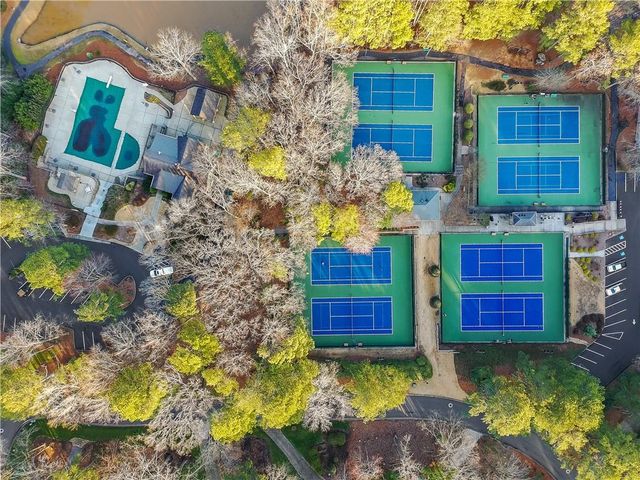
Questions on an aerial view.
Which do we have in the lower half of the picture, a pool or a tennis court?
tennis court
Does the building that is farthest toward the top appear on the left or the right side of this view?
left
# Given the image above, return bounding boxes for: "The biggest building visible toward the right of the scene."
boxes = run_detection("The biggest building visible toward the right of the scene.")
[402,189,441,222]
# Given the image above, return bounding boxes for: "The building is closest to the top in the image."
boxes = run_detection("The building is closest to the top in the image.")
[191,87,221,121]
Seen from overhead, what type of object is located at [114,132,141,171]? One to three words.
swimming pool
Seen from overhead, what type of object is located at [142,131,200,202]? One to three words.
building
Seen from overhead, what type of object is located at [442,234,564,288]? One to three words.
tennis court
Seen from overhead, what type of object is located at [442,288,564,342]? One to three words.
tennis court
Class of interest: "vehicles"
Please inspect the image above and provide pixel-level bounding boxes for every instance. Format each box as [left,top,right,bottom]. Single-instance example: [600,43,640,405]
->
[606,286,623,296]
[149,266,172,276]
[607,262,628,272]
